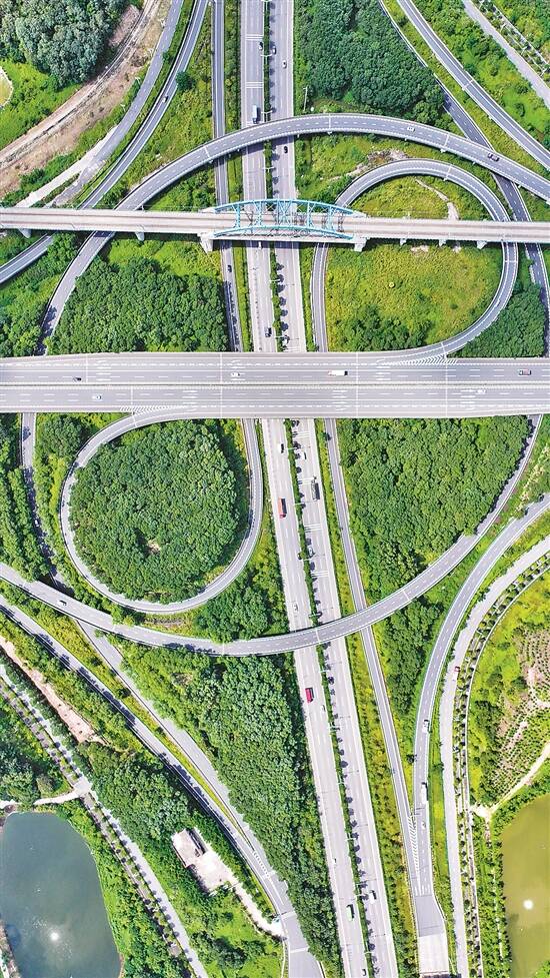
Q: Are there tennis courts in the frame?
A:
No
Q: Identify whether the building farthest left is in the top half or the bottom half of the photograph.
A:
bottom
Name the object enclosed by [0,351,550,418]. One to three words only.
bridge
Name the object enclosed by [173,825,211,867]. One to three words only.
building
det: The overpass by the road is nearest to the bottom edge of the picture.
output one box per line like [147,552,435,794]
[0,448,534,657]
